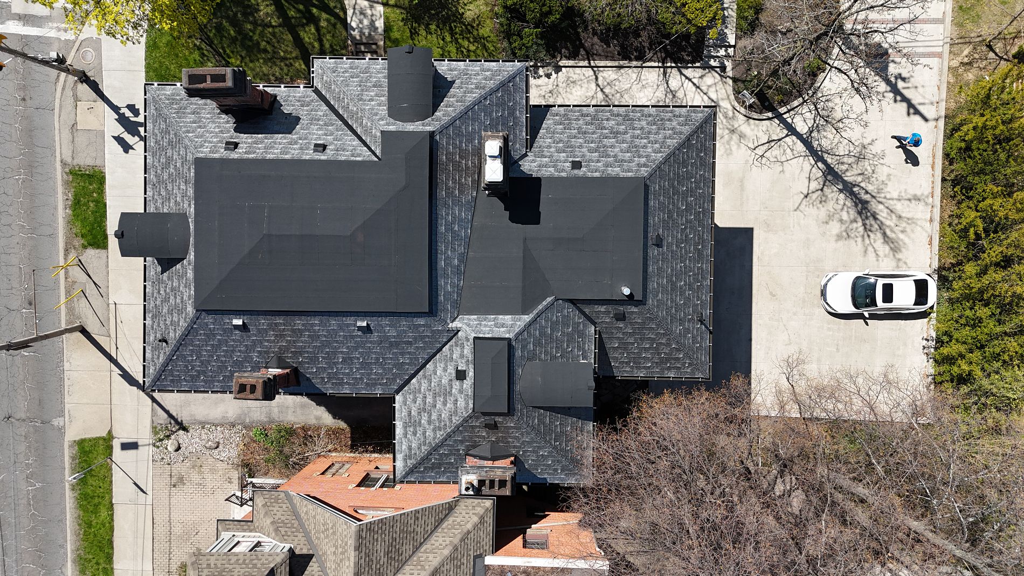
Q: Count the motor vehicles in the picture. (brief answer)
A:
one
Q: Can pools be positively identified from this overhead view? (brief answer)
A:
No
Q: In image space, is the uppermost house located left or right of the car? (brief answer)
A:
on the left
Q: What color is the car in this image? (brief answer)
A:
white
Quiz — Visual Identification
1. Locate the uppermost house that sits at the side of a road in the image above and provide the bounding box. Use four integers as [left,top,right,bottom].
[113,43,717,497]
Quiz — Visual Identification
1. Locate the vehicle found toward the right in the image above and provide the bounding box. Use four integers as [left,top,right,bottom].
[818,266,940,321]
